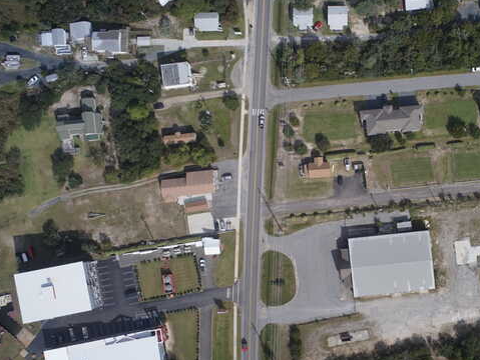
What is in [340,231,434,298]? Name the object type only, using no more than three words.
building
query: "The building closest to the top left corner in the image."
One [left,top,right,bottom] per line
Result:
[41,29,67,47]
